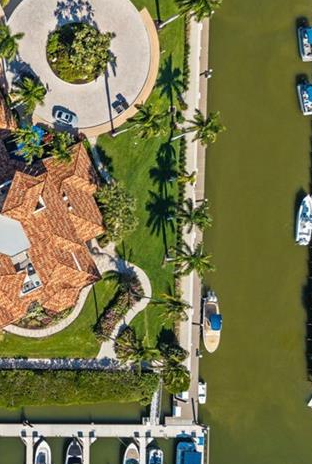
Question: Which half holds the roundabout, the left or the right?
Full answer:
The roundabout appears in the left half of the scene.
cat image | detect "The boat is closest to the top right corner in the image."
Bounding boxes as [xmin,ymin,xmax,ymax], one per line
[294,20,312,63]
